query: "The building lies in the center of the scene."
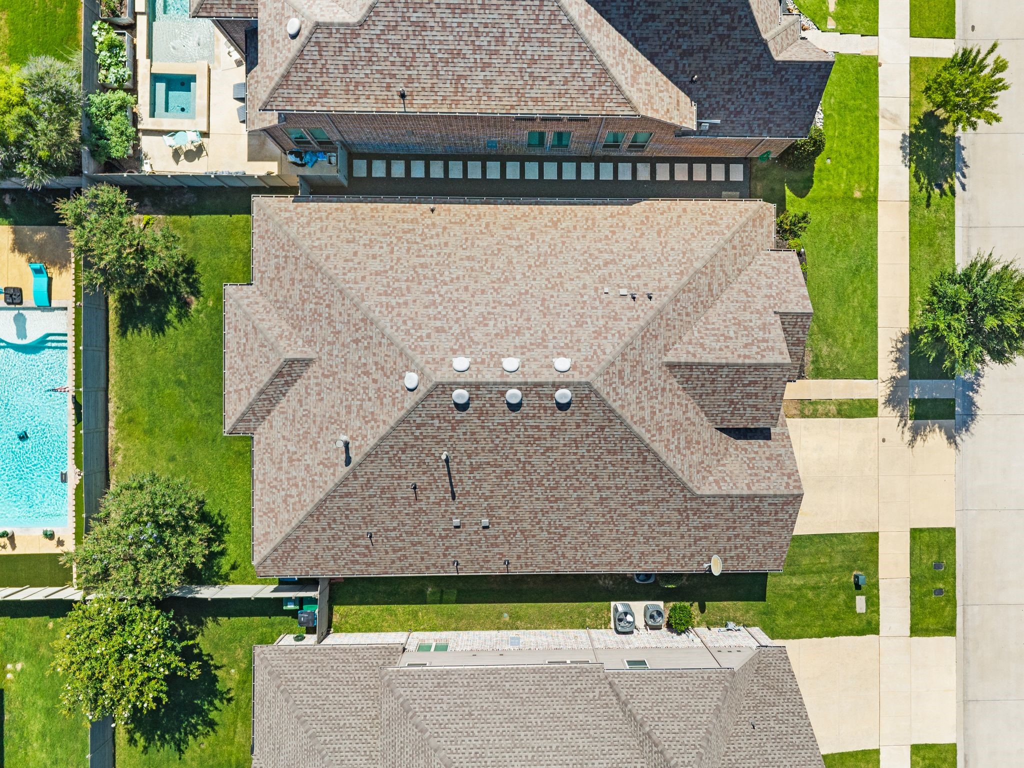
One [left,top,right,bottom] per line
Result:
[221,194,811,578]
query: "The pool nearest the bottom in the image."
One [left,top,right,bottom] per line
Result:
[0,298,73,536]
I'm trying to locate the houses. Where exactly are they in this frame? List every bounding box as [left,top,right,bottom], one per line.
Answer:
[249,621,822,768]
[186,0,834,162]
[221,194,811,578]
